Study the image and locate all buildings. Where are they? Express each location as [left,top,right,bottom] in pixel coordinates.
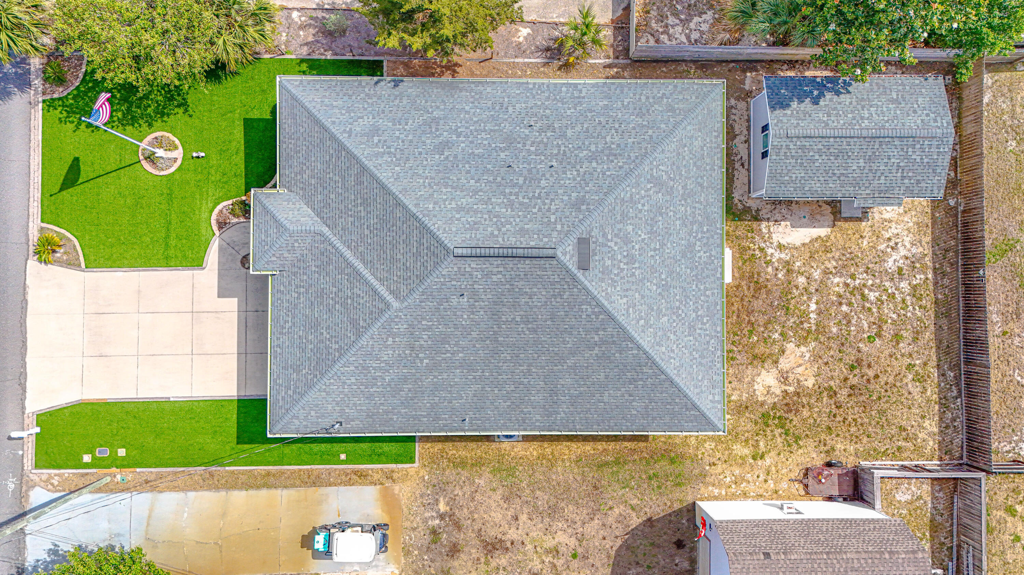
[694,499,931,575]
[251,76,726,437]
[747,74,955,218]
